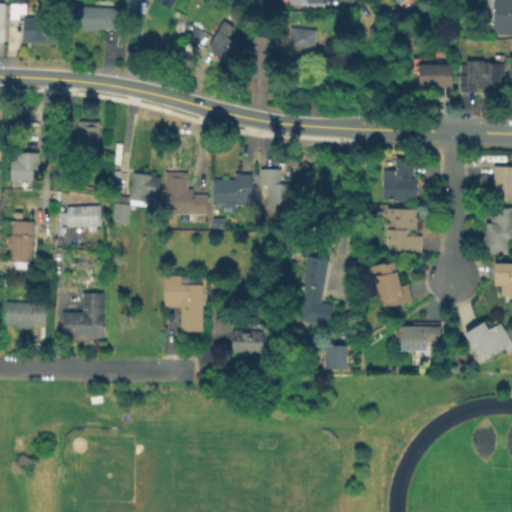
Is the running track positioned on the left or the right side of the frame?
right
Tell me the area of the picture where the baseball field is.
bottom left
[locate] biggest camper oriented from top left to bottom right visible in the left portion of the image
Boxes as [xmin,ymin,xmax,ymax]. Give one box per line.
[191,18,206,32]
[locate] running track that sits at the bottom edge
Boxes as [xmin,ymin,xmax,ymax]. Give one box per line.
[388,395,512,512]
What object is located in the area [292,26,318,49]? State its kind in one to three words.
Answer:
house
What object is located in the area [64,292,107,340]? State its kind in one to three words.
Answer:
house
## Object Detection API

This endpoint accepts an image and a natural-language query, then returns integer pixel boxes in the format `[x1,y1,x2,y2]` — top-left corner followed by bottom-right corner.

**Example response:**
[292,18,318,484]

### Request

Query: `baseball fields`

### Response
[66,434,144,512]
